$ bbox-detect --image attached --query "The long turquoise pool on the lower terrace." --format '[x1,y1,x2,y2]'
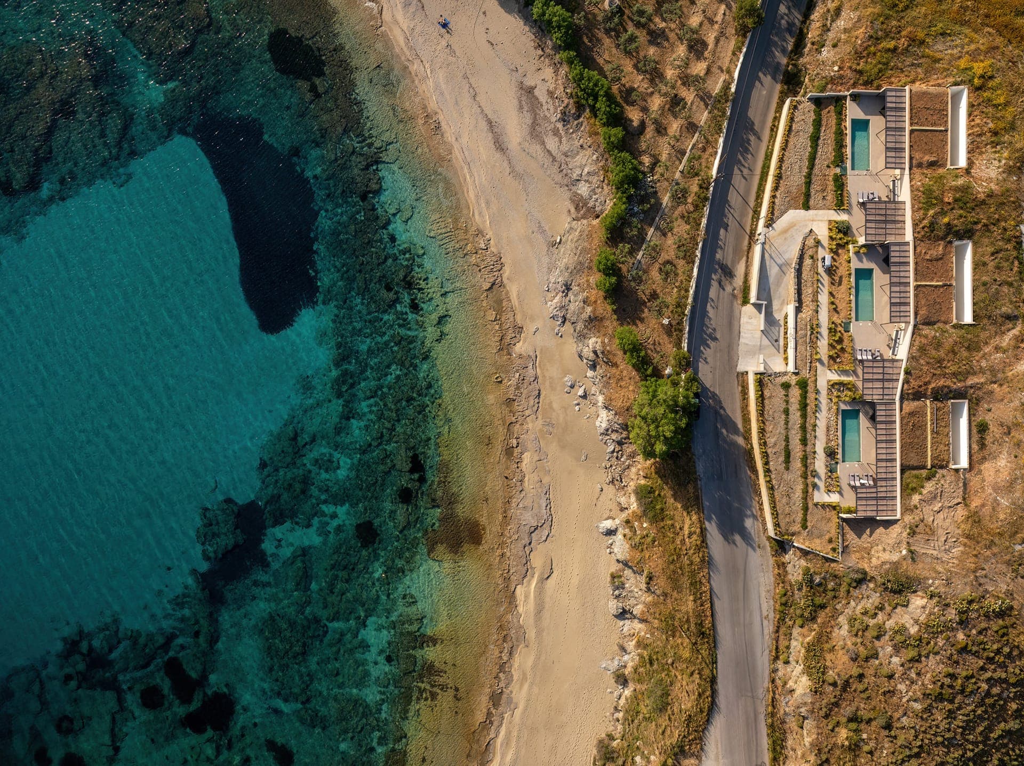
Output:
[841,408,862,466]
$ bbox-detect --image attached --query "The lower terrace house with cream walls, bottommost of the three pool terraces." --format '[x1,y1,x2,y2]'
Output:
[831,399,901,520]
